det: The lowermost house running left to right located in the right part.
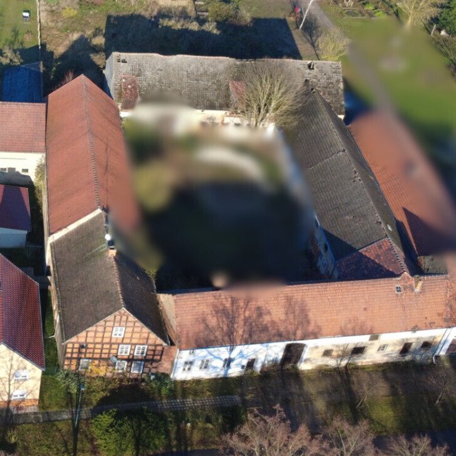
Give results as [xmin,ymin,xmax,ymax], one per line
[156,272,446,376]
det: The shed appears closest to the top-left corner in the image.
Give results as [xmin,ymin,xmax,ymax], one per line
[1,64,43,104]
